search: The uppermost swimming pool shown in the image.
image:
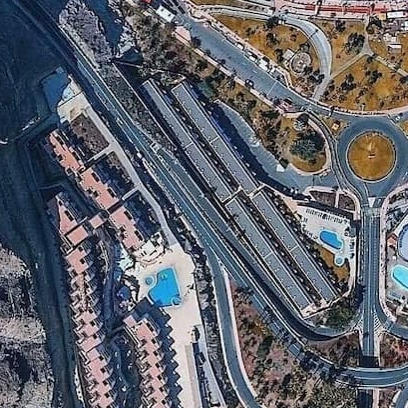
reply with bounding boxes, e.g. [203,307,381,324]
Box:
[318,225,346,265]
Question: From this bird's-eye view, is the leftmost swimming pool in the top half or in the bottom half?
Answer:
bottom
